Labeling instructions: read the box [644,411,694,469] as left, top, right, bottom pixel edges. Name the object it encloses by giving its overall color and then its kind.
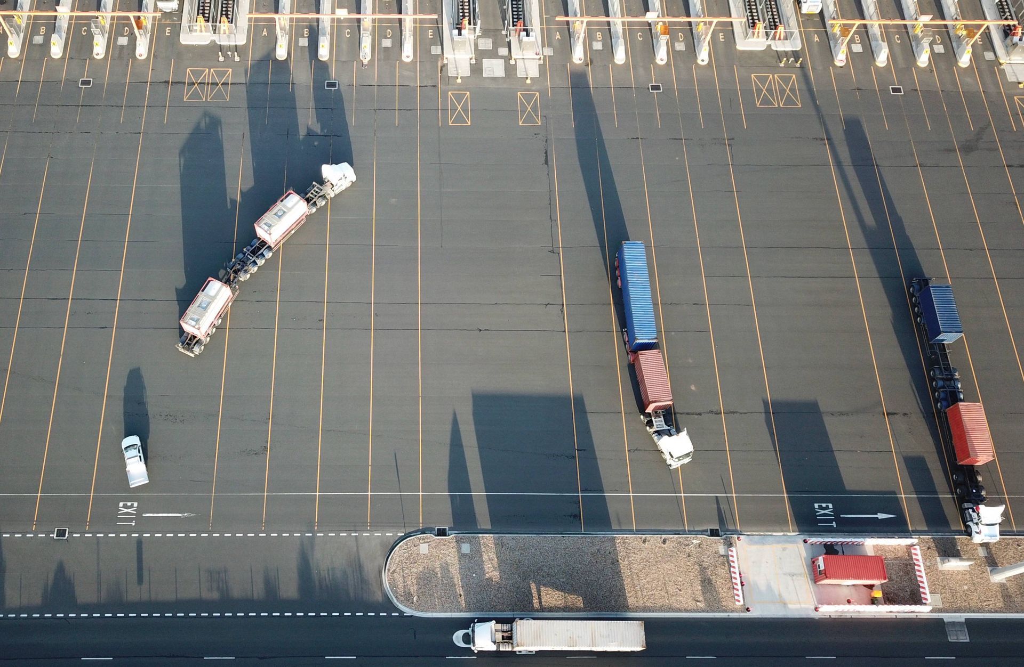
white truck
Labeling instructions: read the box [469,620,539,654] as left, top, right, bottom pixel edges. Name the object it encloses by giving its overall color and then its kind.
white truck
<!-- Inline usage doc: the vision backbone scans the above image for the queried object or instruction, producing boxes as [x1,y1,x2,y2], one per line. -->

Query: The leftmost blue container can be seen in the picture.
[618,241,659,350]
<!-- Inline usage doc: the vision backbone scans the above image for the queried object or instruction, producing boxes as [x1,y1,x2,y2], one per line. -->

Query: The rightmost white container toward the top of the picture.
[255,190,308,247]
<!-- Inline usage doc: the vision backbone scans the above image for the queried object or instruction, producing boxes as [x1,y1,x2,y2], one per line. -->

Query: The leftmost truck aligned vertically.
[123,438,149,489]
